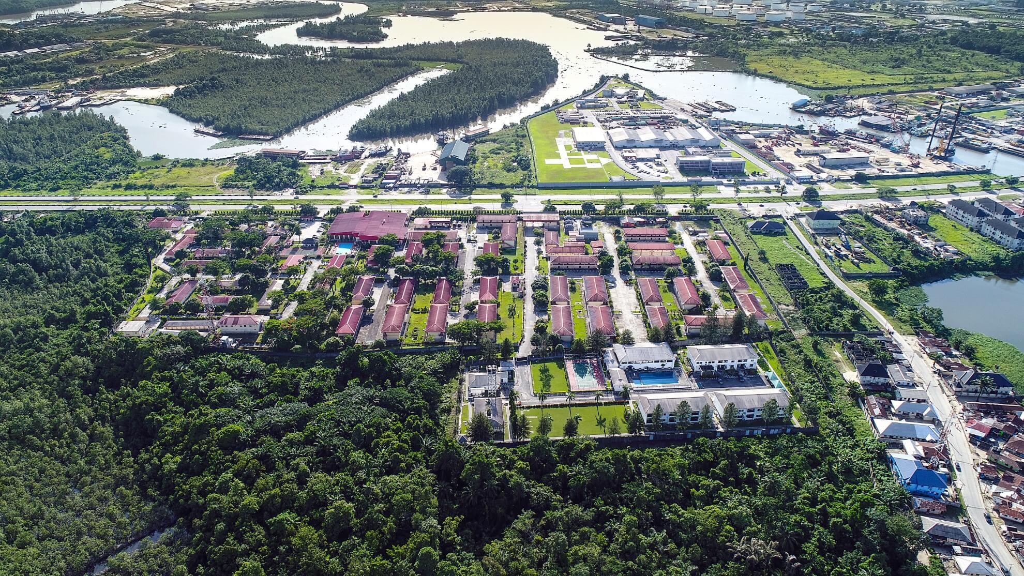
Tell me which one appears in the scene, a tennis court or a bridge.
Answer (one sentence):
The one in the frame is a tennis court.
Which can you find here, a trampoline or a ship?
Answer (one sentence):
Visible in the photo is a ship.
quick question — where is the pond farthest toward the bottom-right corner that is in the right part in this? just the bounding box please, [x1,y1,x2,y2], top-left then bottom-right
[923,276,1024,351]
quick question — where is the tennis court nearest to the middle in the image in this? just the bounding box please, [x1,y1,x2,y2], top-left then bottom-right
[565,351,607,390]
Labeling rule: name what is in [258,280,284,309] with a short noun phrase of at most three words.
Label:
house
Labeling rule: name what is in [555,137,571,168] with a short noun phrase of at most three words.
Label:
helipad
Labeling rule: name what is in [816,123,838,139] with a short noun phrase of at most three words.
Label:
boat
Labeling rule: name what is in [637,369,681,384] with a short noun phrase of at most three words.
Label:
swimming pool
